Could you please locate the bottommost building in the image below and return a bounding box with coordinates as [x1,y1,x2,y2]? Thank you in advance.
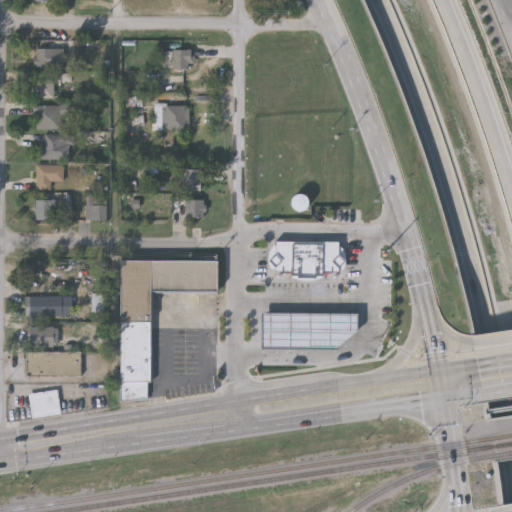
[28,390,62,418]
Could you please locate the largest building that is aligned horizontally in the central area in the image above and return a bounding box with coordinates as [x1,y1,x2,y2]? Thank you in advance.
[268,242,348,281]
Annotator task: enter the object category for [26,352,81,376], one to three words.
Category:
building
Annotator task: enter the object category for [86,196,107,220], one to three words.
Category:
house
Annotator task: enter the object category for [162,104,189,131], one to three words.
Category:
house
